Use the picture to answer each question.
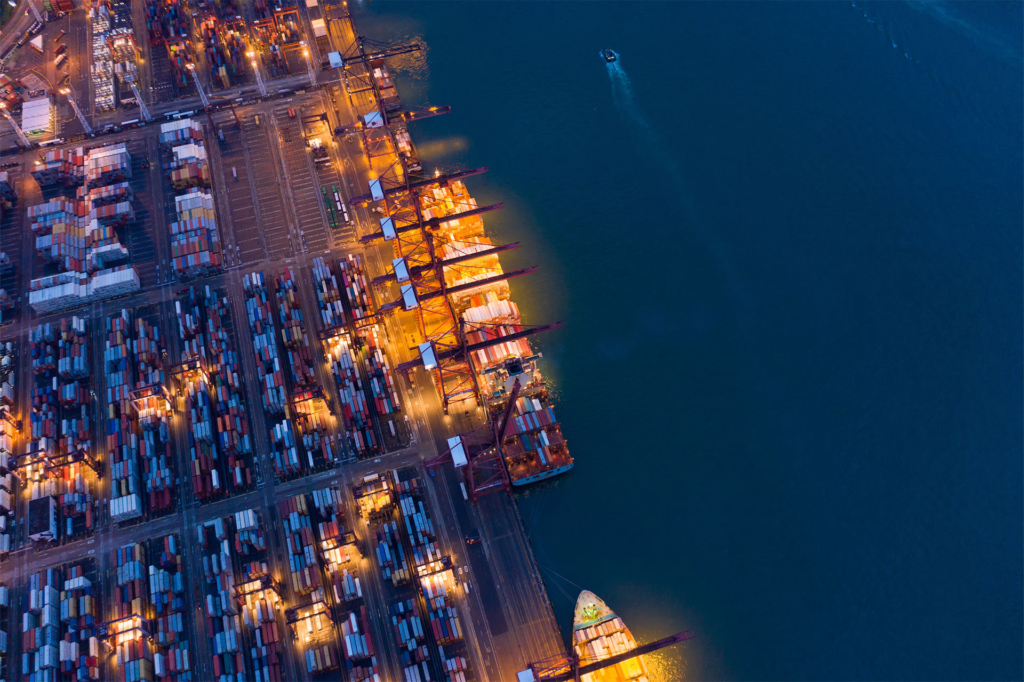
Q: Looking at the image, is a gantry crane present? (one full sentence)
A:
Yes, the photo shows a gantry crane.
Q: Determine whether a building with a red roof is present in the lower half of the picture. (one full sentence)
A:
No, I see no building with a red roof in the lower half of the picture.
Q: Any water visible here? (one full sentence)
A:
Yes, water can be seen from above here.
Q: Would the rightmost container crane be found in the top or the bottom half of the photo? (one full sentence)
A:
The bottom half of the photo is where the rightmost container crane is.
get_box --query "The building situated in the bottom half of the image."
[28,494,60,544]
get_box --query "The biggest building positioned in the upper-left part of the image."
[21,94,58,135]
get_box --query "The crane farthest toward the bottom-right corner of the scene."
[515,629,695,682]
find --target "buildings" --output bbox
[119,88,137,105]
[28,494,60,544]
[21,94,58,135]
